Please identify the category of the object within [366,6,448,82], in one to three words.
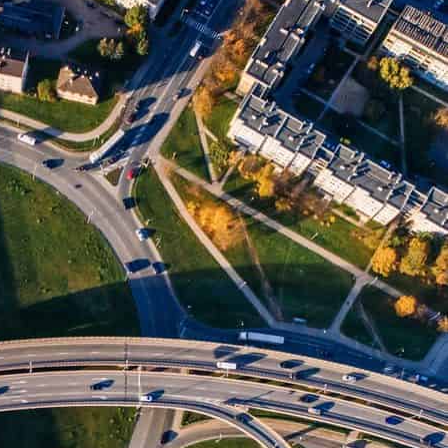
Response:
building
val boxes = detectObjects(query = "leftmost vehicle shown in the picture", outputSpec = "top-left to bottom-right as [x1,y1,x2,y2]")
[18,134,35,146]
